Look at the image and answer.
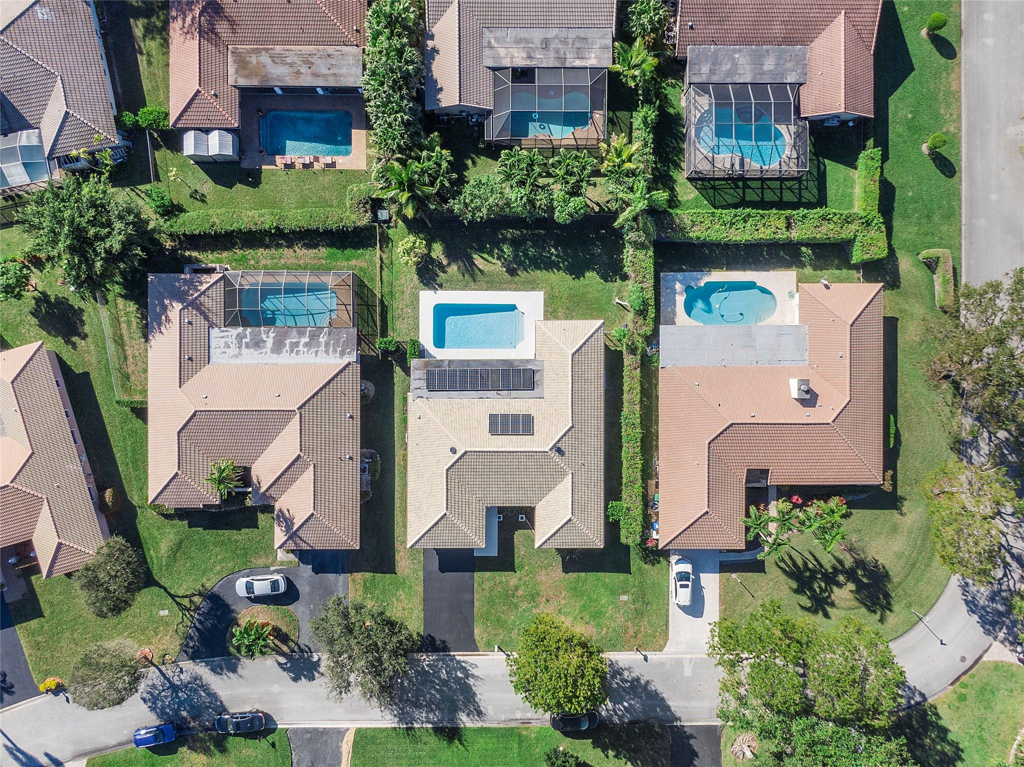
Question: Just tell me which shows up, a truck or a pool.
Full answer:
I can see a pool in this picture.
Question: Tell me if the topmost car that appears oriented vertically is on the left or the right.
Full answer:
The topmost car that appears oriented vertically is on the right side of the image.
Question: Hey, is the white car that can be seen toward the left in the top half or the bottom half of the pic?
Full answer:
It is in the bottom half that the white car that can be seen toward the left appears.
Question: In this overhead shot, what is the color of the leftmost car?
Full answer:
The leftmost car looks blue in the image.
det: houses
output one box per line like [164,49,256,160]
[658,282,886,550]
[425,0,617,111]
[676,0,883,120]
[0,0,126,159]
[0,340,116,580]
[168,0,369,131]
[146,272,361,550]
[406,318,606,550]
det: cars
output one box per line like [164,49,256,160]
[232,575,285,600]
[674,558,698,610]
[549,712,600,740]
[126,724,178,755]
[213,713,264,741]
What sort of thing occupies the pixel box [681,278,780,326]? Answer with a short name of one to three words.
swimming pool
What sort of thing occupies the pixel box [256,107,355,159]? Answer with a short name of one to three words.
swimming pool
